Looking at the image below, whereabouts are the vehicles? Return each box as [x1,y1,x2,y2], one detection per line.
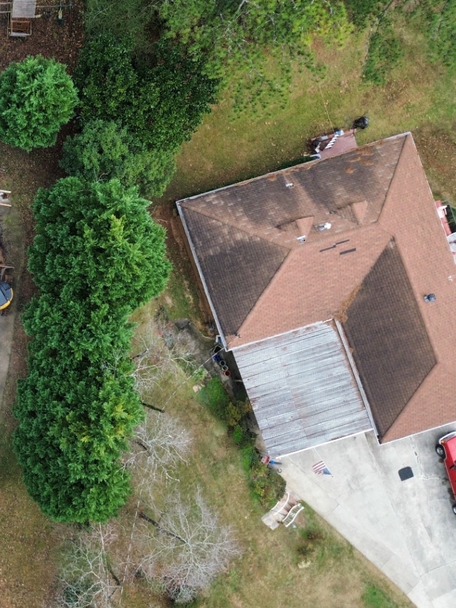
[0,265,14,318]
[434,426,456,496]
